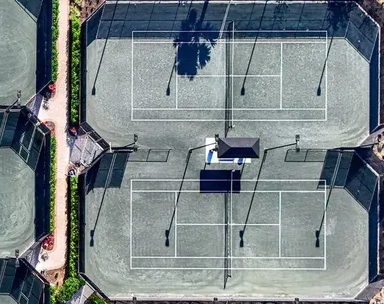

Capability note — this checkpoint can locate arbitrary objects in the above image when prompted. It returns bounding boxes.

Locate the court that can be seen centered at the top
[87,3,378,151]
